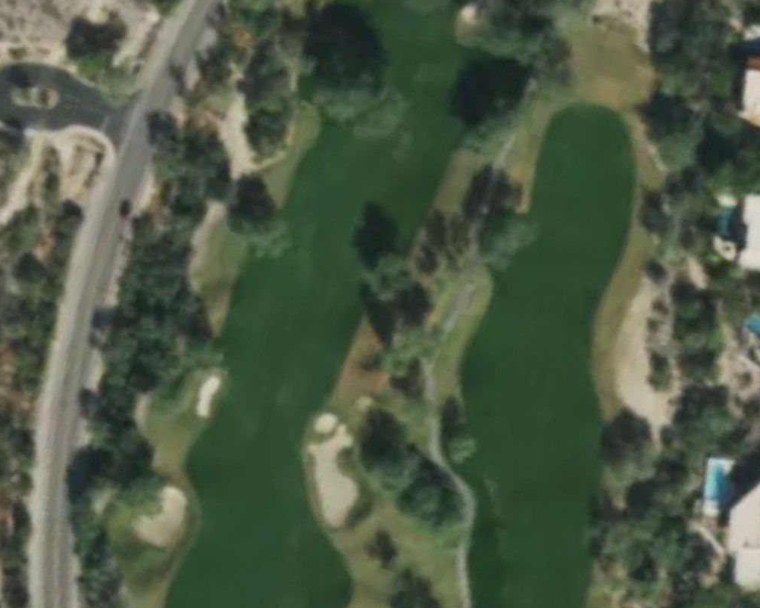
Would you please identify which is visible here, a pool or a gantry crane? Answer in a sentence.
The one in the frame is a pool.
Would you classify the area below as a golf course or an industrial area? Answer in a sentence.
This looks like a golf course.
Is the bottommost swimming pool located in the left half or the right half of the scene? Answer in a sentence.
You can find the bottommost swimming pool on the right side of the picture.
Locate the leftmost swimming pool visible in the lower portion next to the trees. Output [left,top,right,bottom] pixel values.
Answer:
[703,458,734,516]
